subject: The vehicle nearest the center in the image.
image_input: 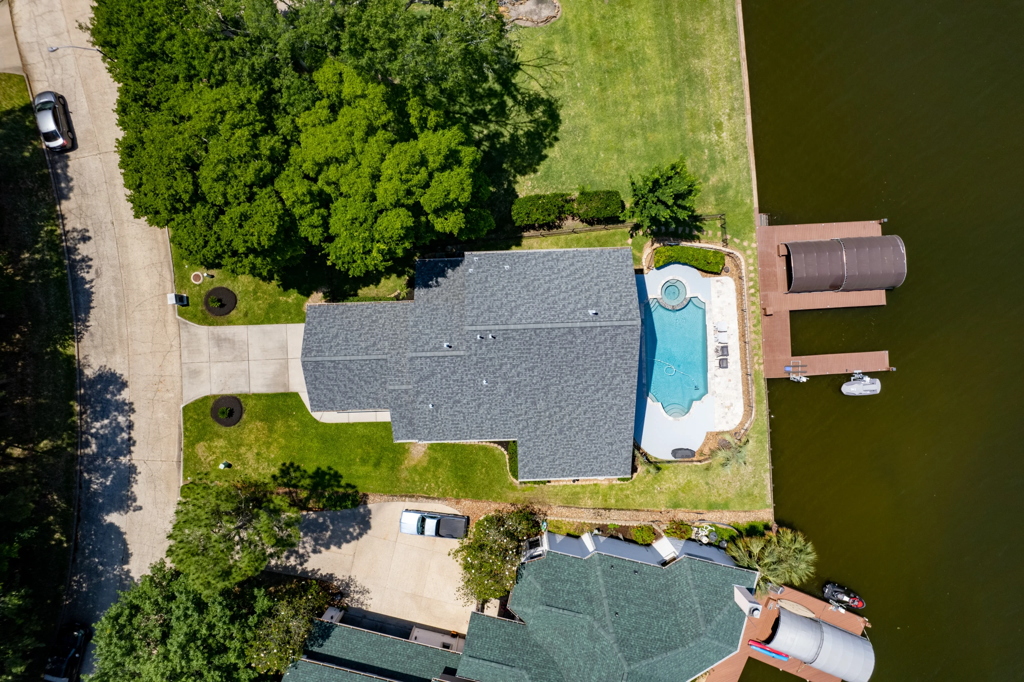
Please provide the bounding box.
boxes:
[394,510,471,543]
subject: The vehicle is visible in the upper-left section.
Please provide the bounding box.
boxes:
[31,88,71,152]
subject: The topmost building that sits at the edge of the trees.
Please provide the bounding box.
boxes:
[301,245,641,482]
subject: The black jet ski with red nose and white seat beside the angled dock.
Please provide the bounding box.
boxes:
[825,584,867,612]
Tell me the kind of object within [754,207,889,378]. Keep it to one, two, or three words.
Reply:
pier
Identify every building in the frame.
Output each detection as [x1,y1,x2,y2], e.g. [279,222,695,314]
[301,245,641,482]
[281,529,762,682]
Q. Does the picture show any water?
Yes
